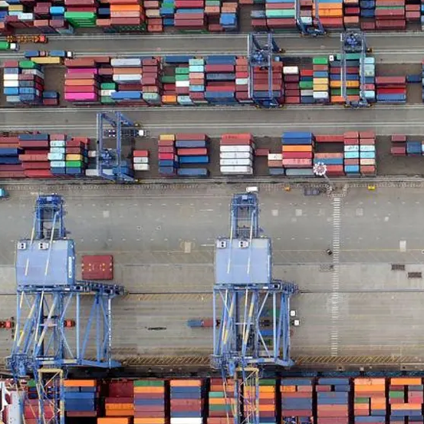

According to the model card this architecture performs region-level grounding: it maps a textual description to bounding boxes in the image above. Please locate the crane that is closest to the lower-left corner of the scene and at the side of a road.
[4,195,127,424]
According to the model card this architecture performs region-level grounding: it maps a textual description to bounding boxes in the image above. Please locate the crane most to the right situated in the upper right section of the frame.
[341,29,376,105]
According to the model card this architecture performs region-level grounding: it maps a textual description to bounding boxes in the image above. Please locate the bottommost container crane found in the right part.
[207,195,303,424]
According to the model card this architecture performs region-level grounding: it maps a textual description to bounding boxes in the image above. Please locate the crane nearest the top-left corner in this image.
[96,109,144,180]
